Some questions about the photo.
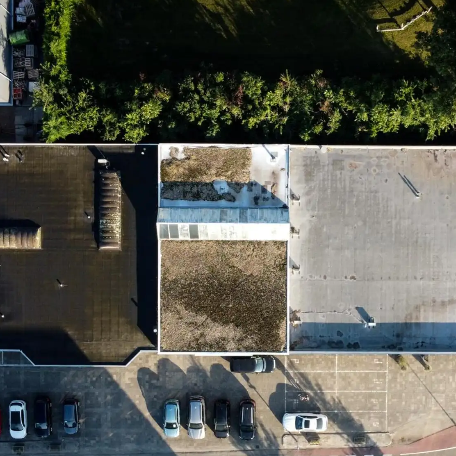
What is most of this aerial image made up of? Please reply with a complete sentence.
The largest share of the image is taken up by buildings.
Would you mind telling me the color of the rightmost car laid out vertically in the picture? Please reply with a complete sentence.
The color of the rightmost car laid out vertically is black.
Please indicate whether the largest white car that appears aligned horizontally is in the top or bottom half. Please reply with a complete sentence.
The bottom half of the photo is where the largest white car that appears aligned horizontally is.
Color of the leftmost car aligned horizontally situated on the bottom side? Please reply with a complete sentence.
The leftmost car aligned horizontally situated on the bottom side looks black in the image.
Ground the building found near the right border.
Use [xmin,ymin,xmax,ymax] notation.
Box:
[289,146,456,355]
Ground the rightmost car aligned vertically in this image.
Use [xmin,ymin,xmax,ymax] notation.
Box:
[237,399,257,440]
